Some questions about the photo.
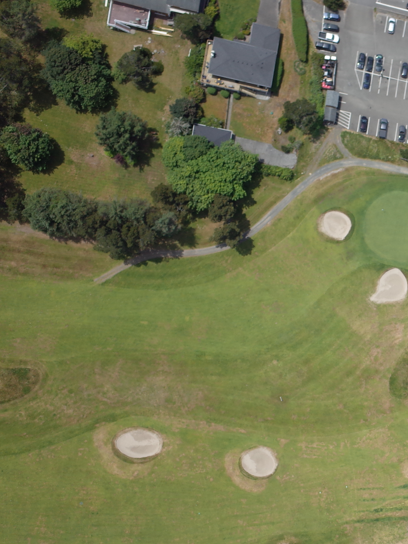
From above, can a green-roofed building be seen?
No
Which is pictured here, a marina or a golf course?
golf course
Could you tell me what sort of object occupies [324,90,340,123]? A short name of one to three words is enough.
shed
